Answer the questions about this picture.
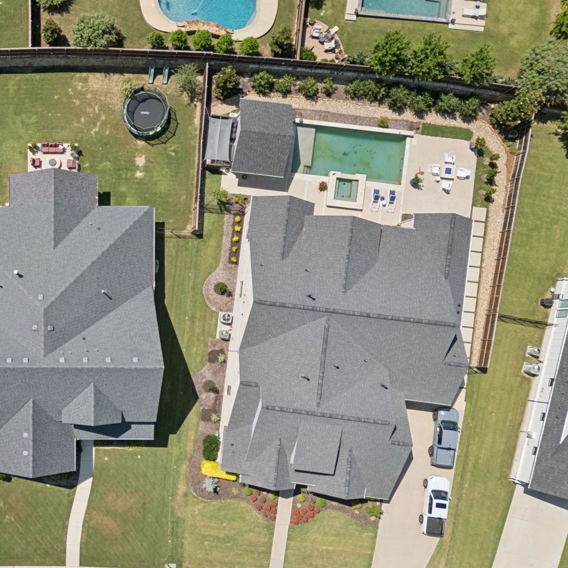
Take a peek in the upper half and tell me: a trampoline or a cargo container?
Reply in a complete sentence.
Looking in the upper half, you will find a trampoline.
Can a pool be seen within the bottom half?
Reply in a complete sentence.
No, no pool appears within the bottom half.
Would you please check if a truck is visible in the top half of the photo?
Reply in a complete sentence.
No, looking in the top half of the photo, there is no truck.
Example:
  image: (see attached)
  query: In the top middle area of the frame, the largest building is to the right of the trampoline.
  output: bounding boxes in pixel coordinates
[227,97,293,179]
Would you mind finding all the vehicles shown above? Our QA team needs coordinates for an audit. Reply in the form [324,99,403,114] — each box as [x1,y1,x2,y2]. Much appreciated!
[418,473,453,540]
[427,405,460,471]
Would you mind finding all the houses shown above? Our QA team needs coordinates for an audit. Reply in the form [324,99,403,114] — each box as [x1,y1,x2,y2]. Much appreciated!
[503,278,568,498]
[0,168,164,479]
[218,195,473,500]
